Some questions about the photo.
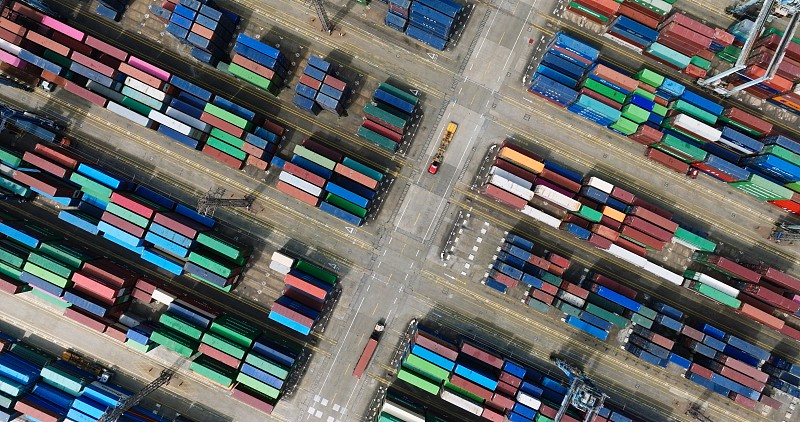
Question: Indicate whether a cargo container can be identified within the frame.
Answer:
Yes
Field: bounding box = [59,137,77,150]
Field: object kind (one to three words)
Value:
vehicle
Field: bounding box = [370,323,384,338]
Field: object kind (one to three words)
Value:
vehicle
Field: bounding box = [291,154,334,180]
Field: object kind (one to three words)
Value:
shipping container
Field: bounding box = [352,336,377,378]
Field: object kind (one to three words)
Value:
shipping container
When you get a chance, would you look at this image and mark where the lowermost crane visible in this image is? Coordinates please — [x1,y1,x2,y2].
[547,356,609,422]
